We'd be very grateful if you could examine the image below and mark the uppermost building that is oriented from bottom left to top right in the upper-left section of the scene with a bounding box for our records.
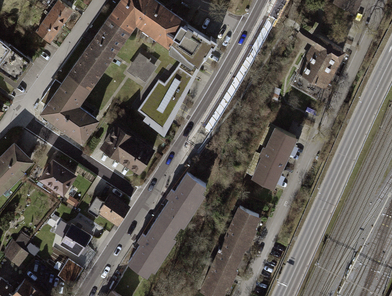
[36,0,74,44]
